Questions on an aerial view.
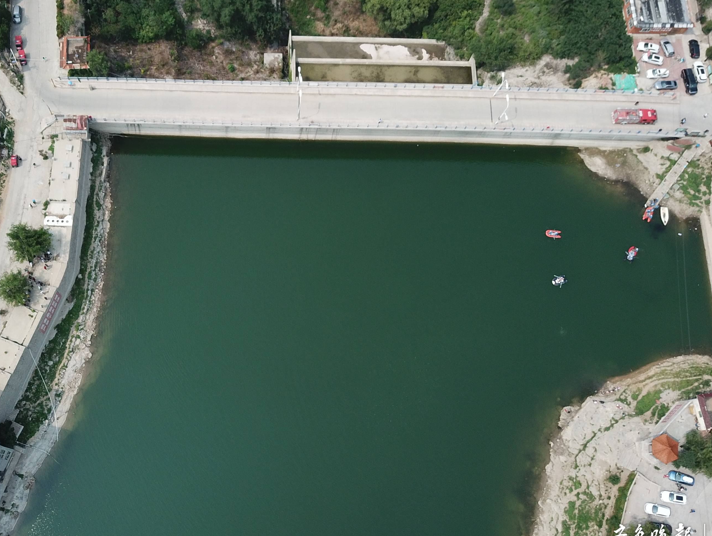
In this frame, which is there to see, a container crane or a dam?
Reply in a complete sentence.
This aerial view contains a dam.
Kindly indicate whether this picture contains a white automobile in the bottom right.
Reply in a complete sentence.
Yes, a white automobile appears in the bottom right.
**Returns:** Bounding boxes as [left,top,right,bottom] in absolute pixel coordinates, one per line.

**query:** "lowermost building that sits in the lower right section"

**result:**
[642,434,679,467]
